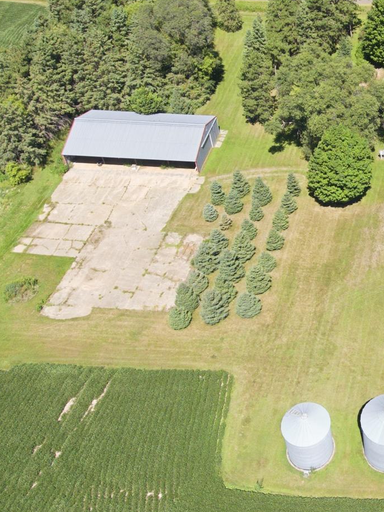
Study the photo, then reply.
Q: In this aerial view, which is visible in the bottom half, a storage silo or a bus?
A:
storage silo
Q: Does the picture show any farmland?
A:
Yes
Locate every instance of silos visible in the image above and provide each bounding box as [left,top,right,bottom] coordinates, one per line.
[284,402,338,476]
[362,395,384,473]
